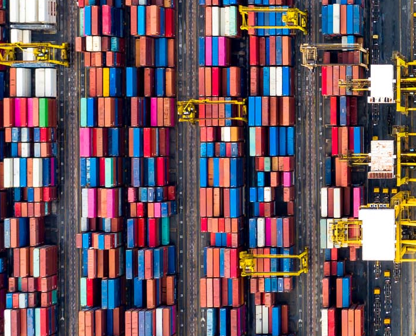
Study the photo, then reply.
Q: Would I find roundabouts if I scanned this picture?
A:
No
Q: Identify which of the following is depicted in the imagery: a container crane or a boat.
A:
container crane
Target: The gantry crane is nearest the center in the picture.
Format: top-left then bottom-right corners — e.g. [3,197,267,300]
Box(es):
[176,96,248,126]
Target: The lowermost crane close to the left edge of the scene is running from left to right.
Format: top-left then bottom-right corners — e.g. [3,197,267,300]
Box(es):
[0,42,75,71]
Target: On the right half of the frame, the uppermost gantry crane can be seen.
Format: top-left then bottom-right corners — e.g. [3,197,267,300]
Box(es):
[239,5,312,37]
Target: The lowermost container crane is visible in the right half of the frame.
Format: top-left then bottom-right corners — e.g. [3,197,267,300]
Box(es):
[239,243,312,280]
